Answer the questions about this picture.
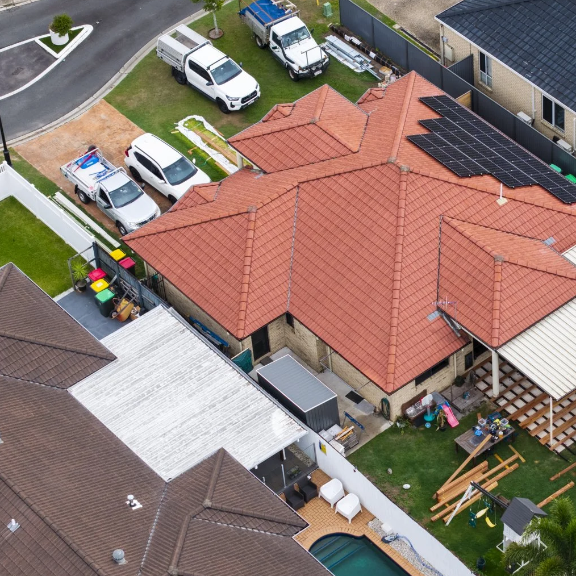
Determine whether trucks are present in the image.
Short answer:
Yes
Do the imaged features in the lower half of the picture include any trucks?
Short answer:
No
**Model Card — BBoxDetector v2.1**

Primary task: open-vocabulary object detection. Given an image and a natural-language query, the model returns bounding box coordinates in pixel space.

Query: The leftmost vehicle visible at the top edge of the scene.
[157,25,266,115]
